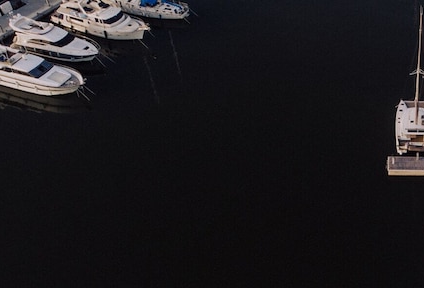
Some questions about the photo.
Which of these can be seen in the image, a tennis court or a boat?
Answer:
boat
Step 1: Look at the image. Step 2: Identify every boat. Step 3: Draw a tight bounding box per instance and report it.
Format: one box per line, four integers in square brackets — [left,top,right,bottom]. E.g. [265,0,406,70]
[102,0,192,24]
[404,144,424,152]
[1,2,110,62]
[43,0,161,44]
[393,2,424,156]
[0,45,96,97]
